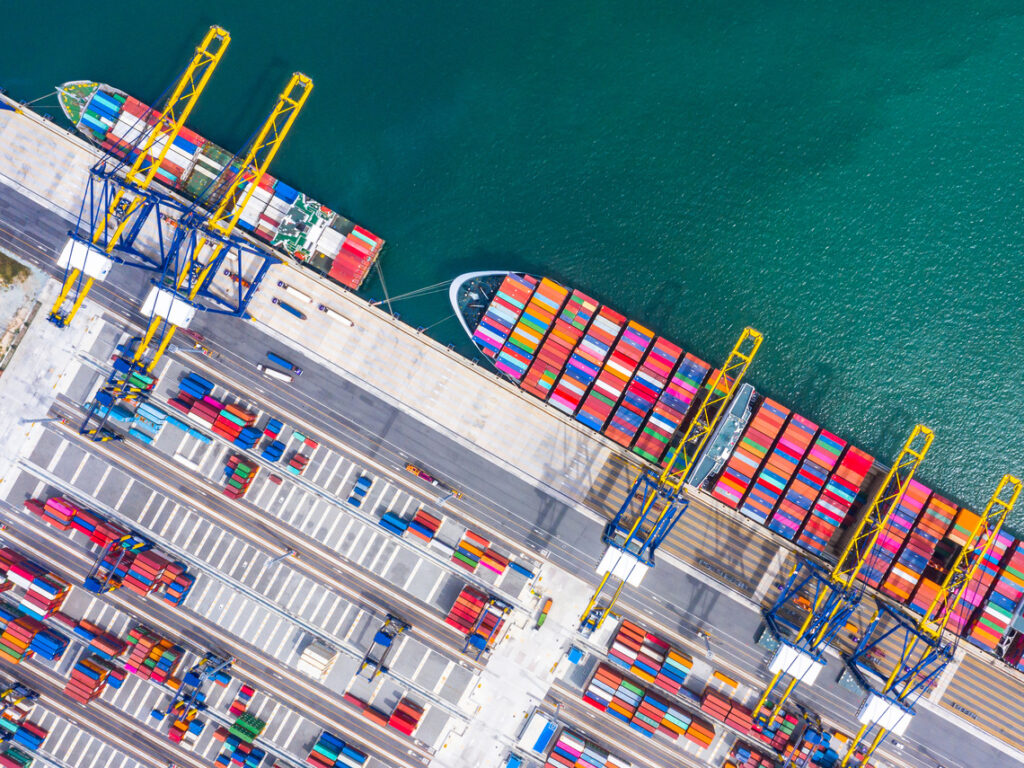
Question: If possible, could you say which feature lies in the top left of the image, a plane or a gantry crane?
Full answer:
There is a gantry crane in the top left of the image.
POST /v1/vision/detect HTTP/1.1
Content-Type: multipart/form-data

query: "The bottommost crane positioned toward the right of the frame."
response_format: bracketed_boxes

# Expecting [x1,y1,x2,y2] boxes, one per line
[776,704,829,768]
